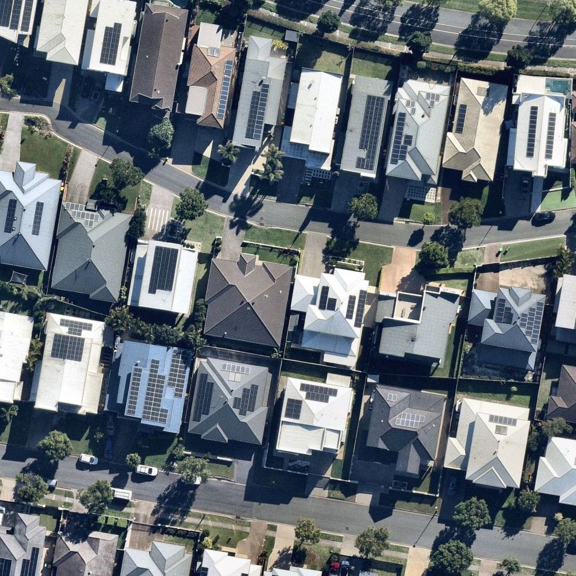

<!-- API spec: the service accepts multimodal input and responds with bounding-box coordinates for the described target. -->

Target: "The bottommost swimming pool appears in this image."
[545,79,573,96]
